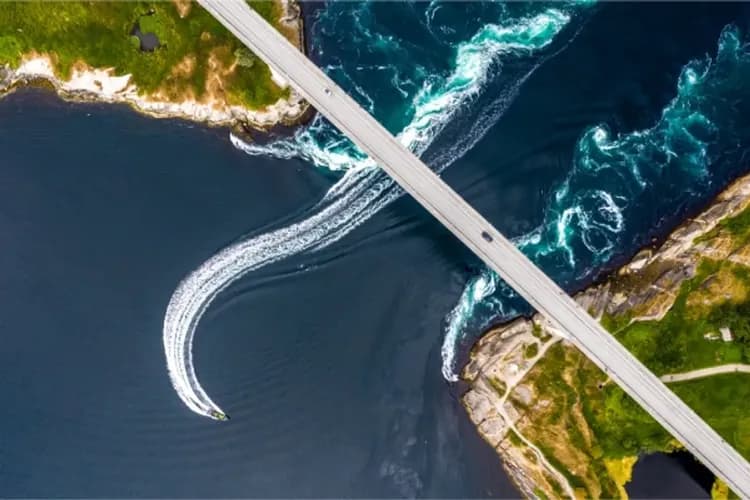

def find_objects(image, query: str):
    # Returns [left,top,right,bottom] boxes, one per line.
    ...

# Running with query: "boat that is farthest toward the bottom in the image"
[208,406,230,421]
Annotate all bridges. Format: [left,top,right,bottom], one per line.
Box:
[196,0,750,500]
